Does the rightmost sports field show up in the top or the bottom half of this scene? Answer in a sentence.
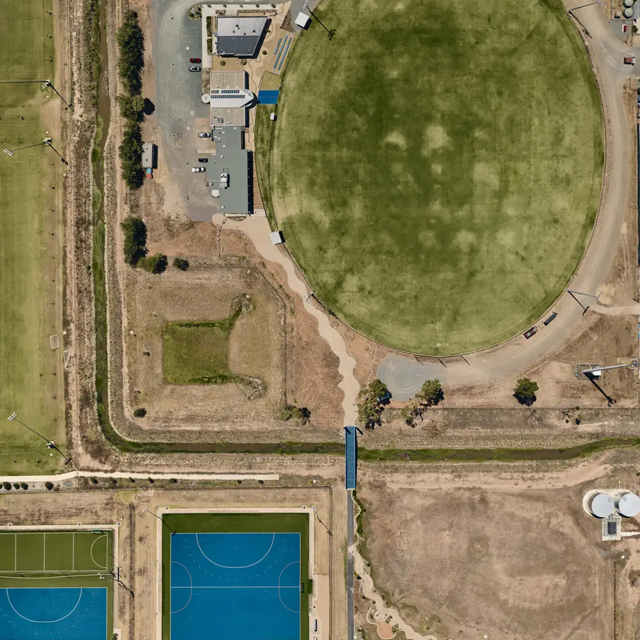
It is in the top half that the rightmost sports field appears.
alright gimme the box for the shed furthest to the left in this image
[142,144,156,169]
